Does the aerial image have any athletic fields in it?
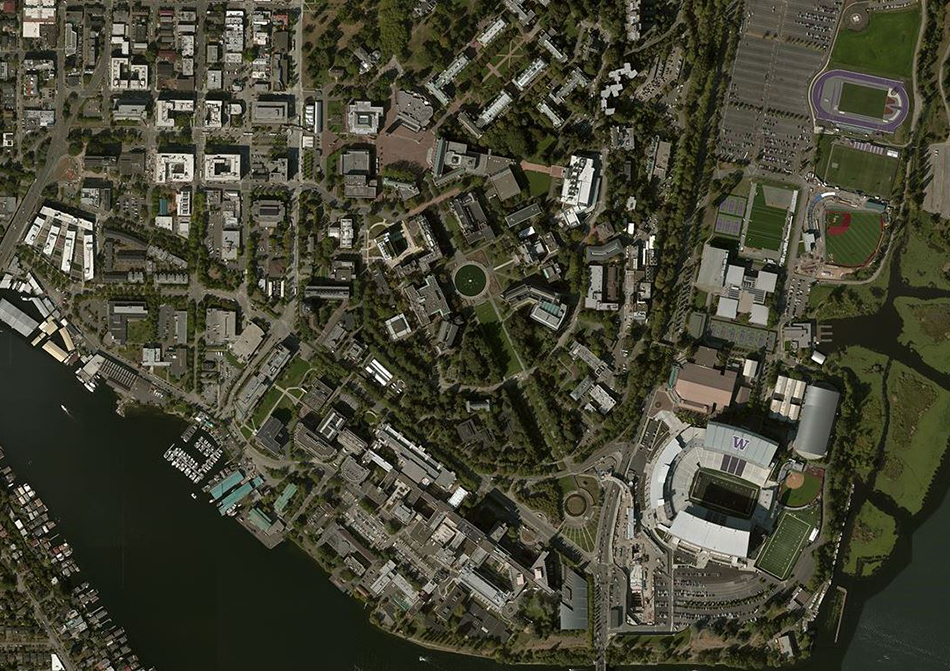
Yes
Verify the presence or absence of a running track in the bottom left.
No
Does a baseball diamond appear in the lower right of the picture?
Yes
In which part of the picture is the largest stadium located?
bottom right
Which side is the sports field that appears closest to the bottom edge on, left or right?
right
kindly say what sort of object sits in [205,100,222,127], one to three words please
building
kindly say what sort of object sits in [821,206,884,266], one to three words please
baseball field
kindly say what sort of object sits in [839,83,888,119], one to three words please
sports field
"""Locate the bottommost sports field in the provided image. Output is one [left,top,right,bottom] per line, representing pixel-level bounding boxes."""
[755,511,815,583]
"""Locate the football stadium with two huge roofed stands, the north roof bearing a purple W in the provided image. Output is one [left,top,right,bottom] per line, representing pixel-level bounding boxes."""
[650,421,782,563]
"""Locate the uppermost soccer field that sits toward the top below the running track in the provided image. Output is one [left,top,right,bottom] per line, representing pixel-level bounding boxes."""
[823,143,902,201]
